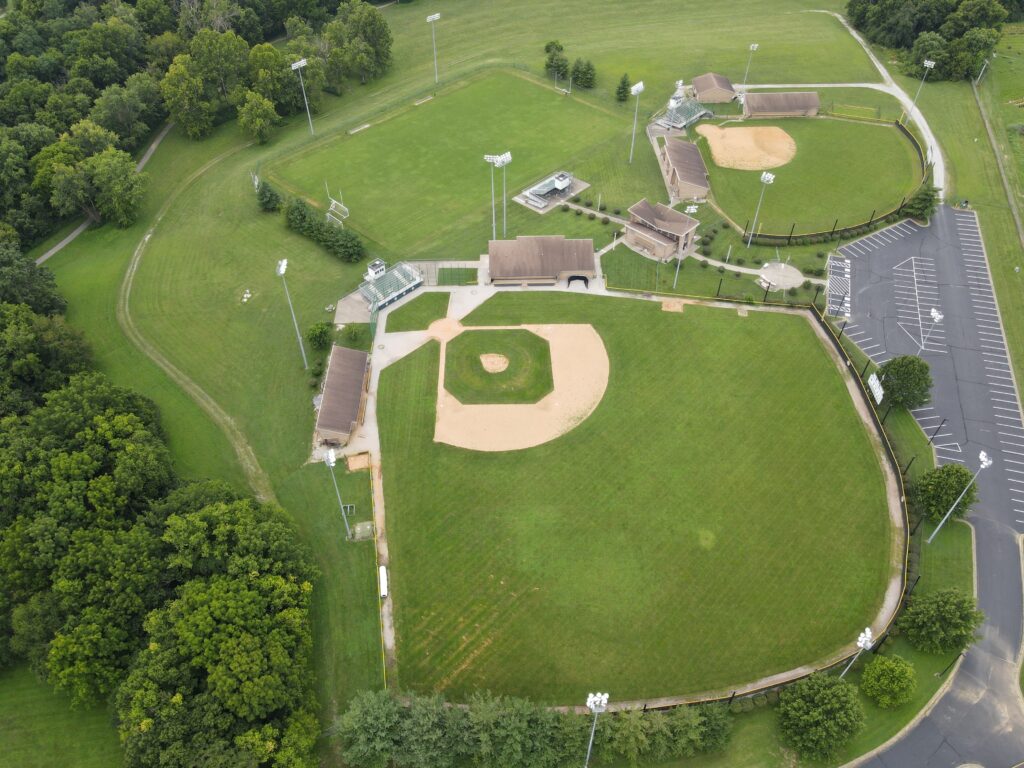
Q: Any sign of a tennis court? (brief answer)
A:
No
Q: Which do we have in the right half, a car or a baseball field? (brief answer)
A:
baseball field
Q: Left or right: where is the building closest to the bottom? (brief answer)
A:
left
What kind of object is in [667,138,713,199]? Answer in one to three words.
building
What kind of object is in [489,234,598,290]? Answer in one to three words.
building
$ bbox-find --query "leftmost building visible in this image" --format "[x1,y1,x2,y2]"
[311,345,369,446]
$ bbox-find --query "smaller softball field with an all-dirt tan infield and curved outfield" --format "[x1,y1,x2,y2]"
[690,116,924,236]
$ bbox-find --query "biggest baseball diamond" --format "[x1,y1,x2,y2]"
[348,290,910,710]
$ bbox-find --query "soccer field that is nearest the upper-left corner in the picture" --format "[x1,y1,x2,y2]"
[269,70,631,260]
